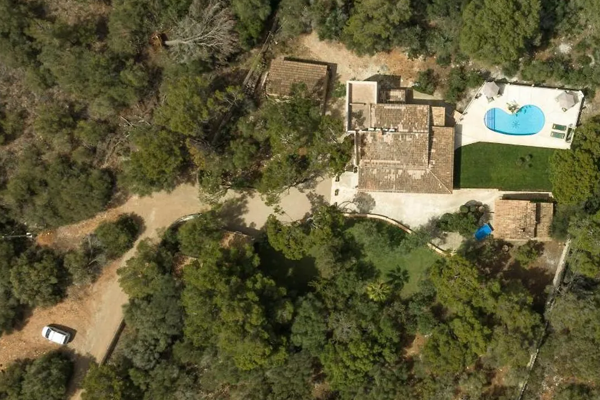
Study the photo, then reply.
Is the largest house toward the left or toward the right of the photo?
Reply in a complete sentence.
You can find the largest house on the right side of the picture.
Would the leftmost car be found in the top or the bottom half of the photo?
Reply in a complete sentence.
It is in the bottom half that the leftmost car appears.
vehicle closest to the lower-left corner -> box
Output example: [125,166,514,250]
[41,324,73,345]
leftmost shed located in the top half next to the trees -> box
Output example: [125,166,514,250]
[266,58,330,102]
